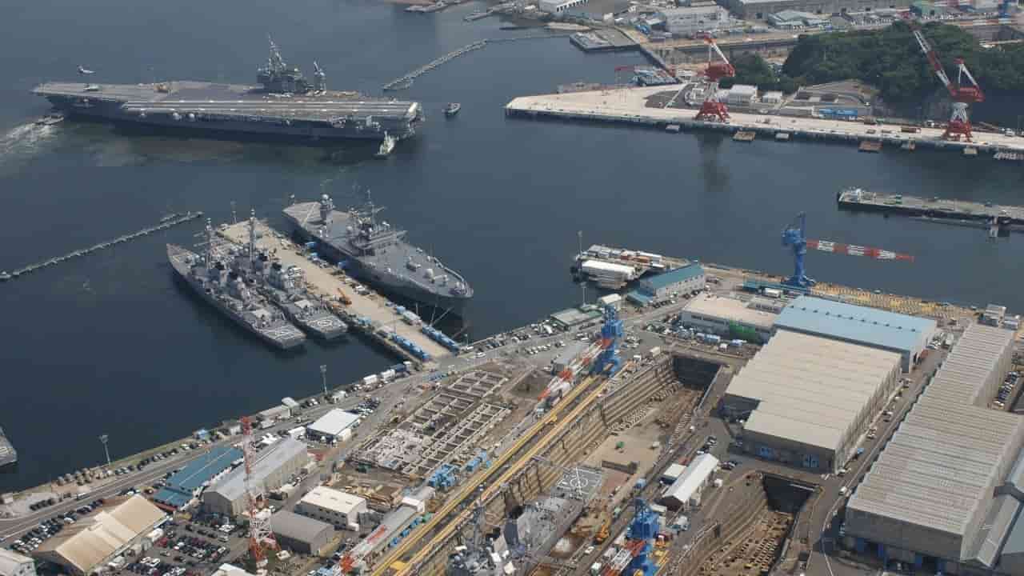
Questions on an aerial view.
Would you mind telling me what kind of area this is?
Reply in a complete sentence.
The picture captures a port.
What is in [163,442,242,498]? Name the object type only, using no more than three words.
shed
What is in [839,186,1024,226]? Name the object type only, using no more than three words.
pier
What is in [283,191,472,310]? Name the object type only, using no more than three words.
ship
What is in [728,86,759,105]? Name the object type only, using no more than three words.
building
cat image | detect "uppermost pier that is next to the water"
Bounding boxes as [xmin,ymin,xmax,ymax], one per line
[570,28,639,53]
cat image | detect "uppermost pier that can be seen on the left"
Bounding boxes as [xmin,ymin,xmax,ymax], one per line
[217,218,462,368]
